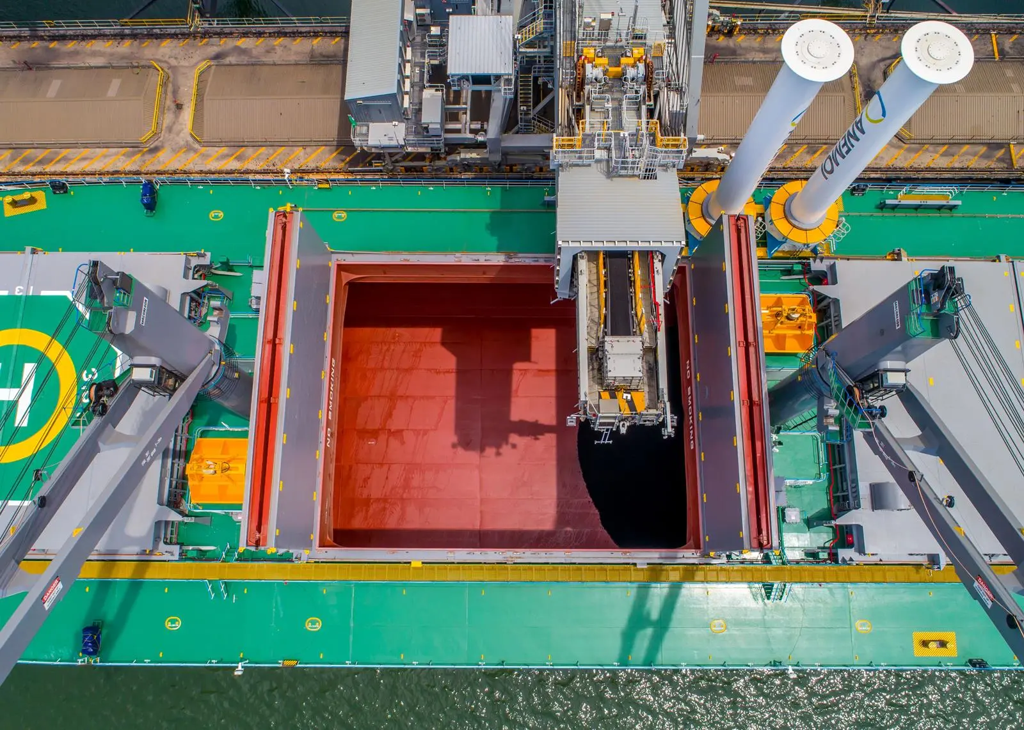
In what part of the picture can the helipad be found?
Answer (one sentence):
You can find the helipad in the left area of the picture.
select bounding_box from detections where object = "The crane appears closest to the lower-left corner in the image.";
[0,249,259,677]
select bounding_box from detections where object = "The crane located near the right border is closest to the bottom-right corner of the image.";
[771,260,1024,635]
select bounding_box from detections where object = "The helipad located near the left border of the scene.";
[0,287,128,507]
